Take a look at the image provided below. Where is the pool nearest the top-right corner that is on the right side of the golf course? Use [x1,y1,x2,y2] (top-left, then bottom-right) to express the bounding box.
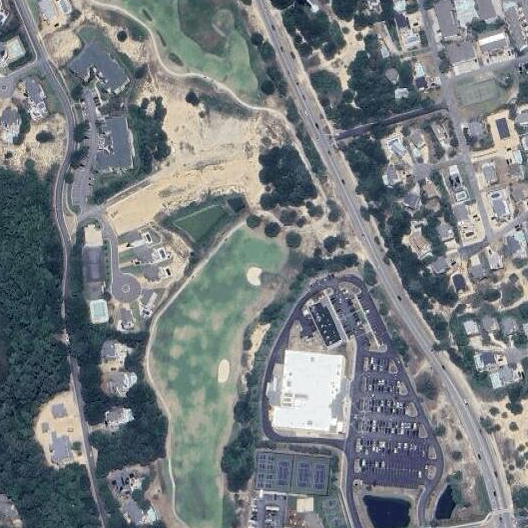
[459,4,471,22]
